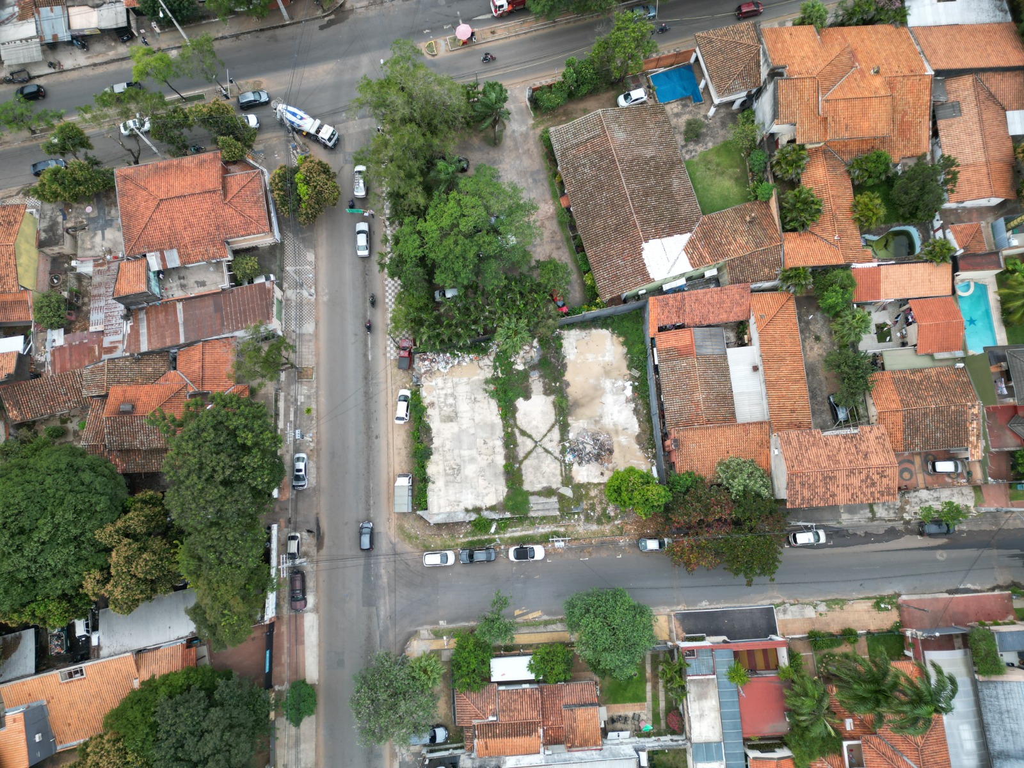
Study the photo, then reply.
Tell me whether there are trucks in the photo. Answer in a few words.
Yes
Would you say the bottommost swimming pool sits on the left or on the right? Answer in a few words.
right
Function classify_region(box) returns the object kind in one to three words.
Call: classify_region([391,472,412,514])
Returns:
truck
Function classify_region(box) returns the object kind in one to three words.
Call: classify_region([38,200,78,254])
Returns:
shed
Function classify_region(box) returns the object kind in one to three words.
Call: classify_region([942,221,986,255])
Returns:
building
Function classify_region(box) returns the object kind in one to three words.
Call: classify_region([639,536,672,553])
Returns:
car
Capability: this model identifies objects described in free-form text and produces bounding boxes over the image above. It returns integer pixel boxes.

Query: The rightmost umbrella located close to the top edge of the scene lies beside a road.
[455,24,472,39]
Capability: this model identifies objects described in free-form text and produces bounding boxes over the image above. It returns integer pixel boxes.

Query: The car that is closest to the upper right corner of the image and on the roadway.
[734,0,764,21]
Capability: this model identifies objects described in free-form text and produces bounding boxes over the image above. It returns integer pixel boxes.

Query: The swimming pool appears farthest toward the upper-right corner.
[861,224,923,261]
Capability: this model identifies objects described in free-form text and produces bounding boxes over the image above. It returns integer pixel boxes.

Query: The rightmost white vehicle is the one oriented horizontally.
[927,459,962,476]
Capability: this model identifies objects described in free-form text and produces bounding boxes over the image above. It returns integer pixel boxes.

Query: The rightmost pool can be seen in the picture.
[953,280,1001,355]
